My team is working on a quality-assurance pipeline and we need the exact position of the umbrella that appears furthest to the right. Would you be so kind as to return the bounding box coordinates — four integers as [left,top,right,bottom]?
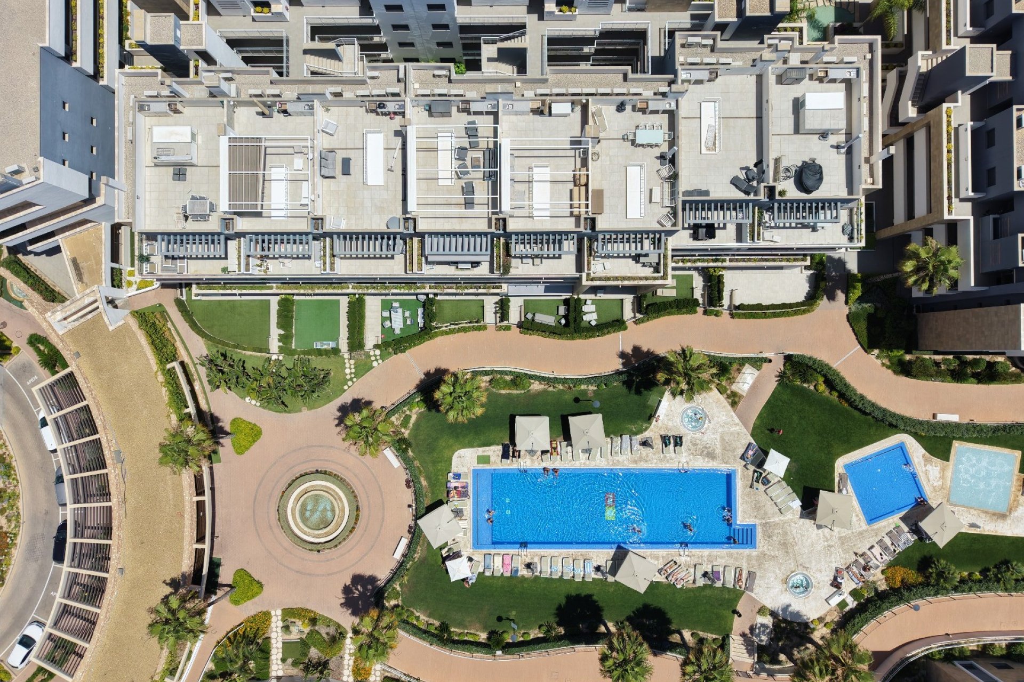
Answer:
[905,502,967,550]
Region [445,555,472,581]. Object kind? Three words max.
umbrella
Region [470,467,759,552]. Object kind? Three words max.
swimming pool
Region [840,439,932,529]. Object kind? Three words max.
swimming pool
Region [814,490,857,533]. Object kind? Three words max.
umbrella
